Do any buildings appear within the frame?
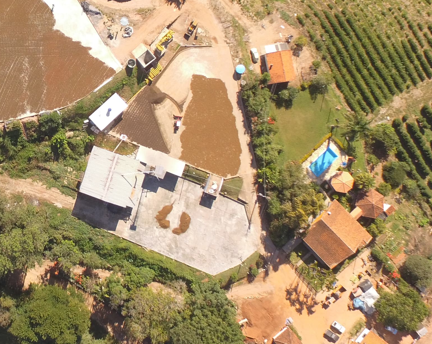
Yes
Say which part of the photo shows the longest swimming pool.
right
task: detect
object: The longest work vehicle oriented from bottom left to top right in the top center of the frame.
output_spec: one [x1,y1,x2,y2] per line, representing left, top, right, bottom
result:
[184,21,199,38]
